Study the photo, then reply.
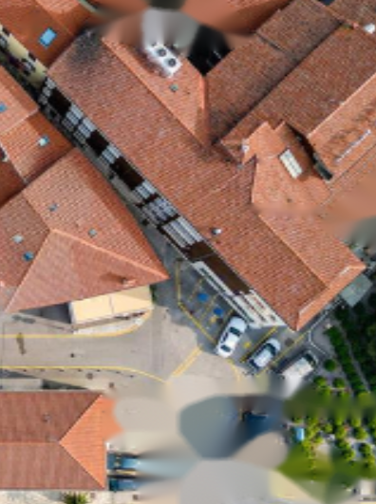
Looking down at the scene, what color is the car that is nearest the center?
white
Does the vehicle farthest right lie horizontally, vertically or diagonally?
diagonally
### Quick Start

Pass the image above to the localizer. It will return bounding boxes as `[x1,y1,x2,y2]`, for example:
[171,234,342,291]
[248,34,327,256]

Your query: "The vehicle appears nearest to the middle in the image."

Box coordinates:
[216,317,248,356]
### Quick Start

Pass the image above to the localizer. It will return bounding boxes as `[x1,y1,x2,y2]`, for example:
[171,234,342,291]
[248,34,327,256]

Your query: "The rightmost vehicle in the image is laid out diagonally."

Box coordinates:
[279,347,323,394]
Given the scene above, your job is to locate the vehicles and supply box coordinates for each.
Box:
[248,334,283,372]
[108,474,149,495]
[216,317,248,356]
[279,347,323,394]
[108,455,149,476]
